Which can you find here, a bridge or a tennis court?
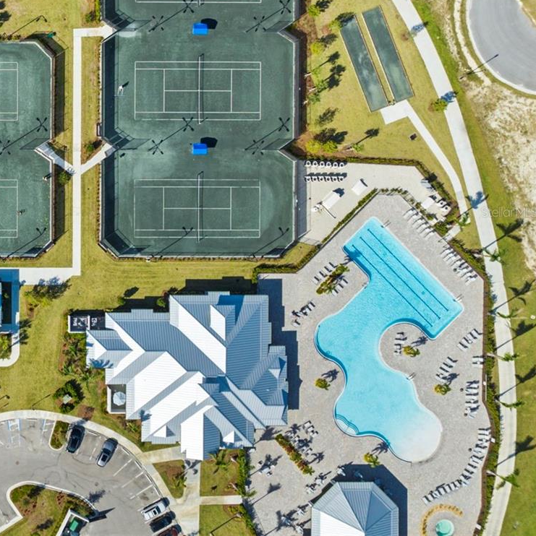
tennis court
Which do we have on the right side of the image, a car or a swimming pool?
swimming pool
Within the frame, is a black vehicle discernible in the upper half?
No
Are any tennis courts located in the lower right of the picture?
No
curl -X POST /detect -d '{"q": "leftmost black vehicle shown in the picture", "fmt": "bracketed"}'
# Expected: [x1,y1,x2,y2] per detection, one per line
[67,426,84,453]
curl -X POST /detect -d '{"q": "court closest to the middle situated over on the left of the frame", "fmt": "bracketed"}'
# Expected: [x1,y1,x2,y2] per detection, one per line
[105,148,294,256]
